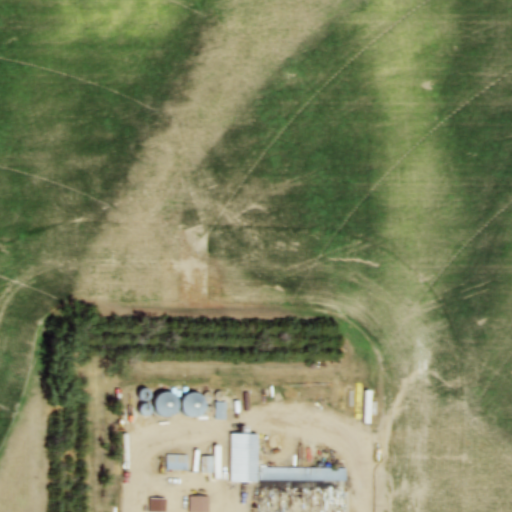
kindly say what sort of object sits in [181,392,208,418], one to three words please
silo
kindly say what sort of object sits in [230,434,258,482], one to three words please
shed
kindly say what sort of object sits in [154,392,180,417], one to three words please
silo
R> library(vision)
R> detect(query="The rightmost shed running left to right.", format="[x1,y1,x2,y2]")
[258,468,346,481]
